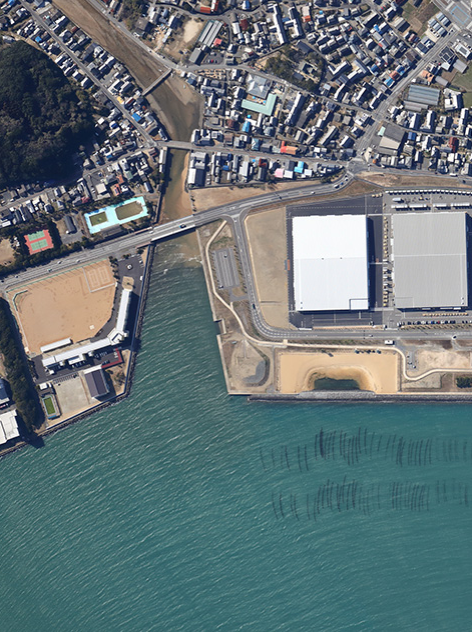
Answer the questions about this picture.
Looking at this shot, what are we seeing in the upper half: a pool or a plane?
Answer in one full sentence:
It is a pool that can be seen in the upper half.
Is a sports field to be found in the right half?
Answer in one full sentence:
No, the scene shows no sports field in the right half.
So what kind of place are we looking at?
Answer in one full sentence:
The area seen from above is a residential area.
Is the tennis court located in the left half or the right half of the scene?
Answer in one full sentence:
The tennis court is on the left side of the image.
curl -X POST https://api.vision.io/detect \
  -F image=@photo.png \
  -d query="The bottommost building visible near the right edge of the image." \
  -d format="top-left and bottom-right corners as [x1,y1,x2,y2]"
[389,211,468,312]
